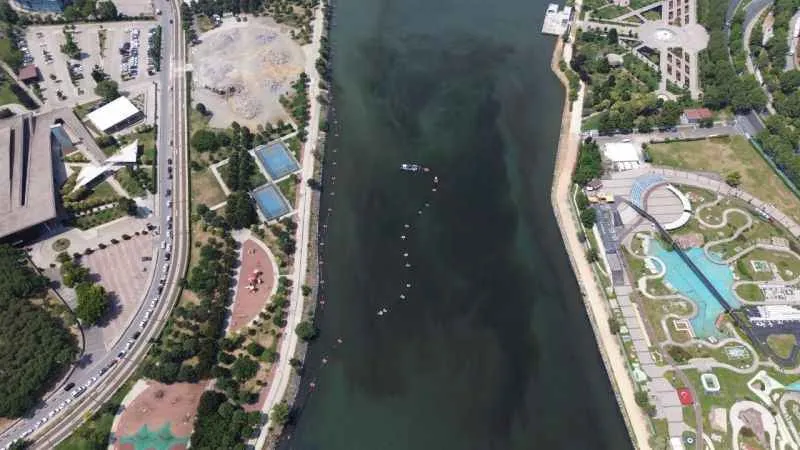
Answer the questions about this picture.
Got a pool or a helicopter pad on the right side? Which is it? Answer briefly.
pool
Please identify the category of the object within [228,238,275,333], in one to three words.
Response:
playground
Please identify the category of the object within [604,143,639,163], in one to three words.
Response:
tent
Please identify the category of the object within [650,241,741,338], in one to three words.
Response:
swimming pool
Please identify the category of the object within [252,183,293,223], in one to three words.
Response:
sports court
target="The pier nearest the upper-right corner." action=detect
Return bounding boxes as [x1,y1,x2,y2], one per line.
[541,4,576,37]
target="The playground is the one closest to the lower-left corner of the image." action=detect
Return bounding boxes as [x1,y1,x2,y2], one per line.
[115,381,203,450]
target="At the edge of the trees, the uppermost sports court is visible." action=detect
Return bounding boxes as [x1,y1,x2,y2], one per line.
[254,139,301,181]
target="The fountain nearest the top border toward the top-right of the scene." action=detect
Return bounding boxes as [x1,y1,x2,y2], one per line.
[655,28,675,41]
